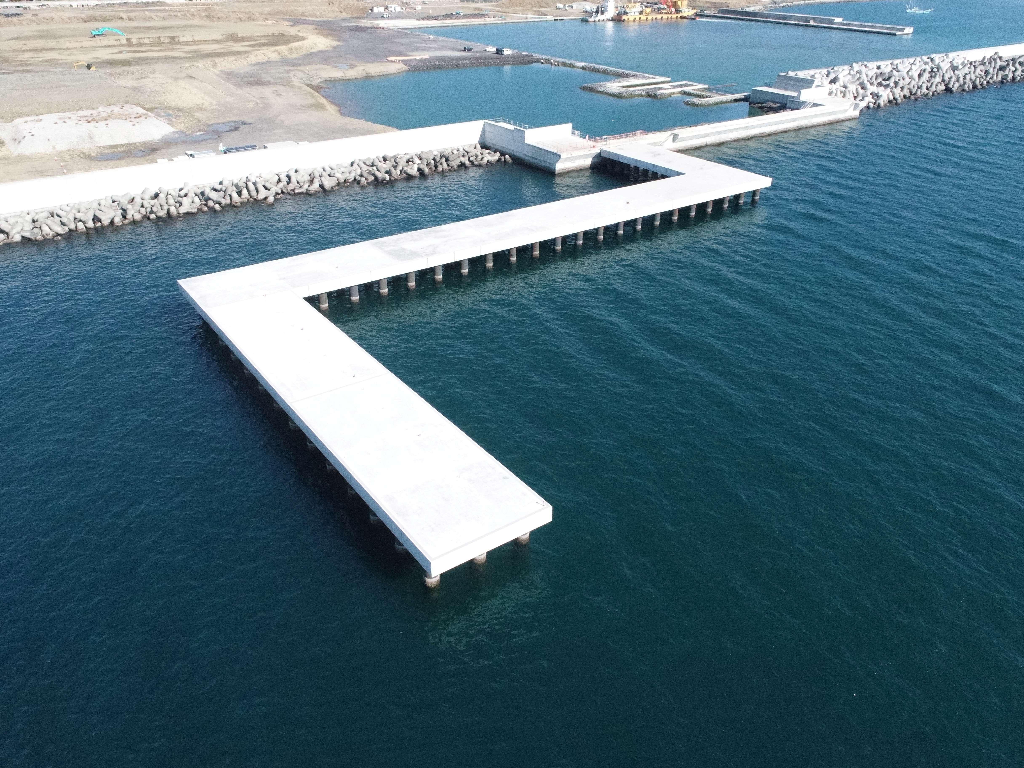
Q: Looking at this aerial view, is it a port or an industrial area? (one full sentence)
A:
It's a port.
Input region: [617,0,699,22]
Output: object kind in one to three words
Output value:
ship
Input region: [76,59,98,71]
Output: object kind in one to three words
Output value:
vehicle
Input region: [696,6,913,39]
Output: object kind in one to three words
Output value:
pier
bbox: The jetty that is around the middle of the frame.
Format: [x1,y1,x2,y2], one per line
[178,143,772,587]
